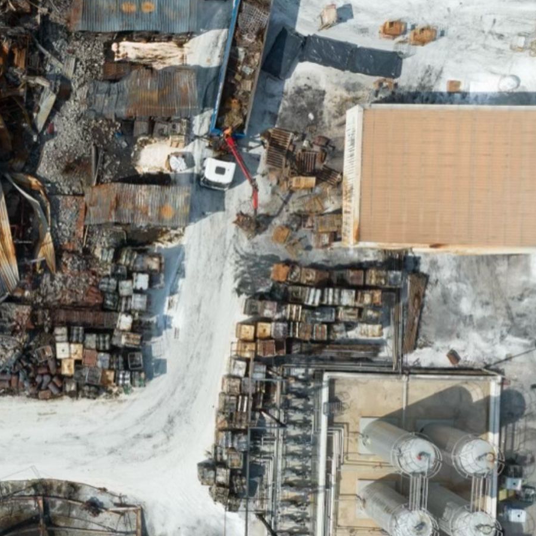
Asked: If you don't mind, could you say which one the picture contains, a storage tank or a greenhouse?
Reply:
storage tank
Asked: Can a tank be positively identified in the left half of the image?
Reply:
No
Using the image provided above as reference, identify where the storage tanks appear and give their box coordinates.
[357,417,444,481]
[412,417,506,481]
[356,481,442,536]
[412,481,505,536]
